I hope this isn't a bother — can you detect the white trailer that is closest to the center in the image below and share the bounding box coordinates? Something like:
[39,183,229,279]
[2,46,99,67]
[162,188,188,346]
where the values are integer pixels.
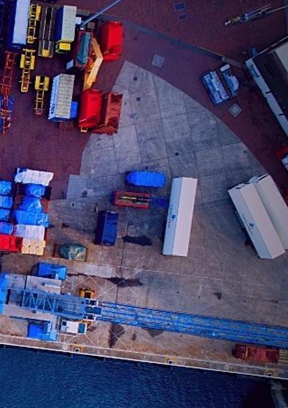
[162,177,197,258]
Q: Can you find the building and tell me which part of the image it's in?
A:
top right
